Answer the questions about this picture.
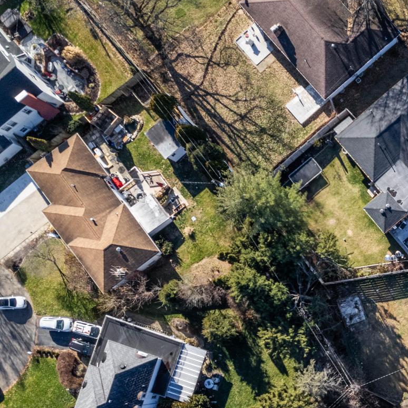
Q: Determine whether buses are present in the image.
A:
No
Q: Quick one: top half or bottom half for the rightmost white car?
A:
bottom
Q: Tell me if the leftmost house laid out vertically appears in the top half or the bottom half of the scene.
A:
top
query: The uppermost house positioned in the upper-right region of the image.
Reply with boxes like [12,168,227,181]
[241,0,401,102]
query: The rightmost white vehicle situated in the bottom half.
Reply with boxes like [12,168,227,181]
[71,320,100,341]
